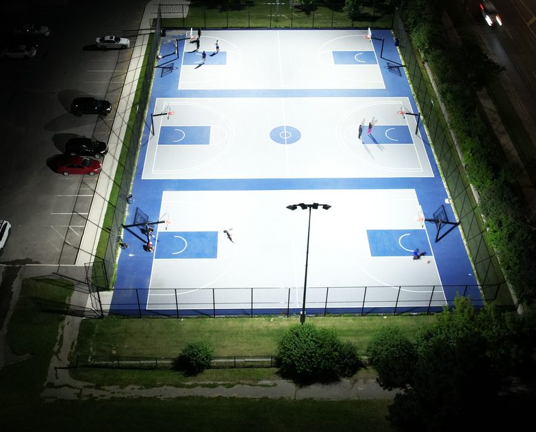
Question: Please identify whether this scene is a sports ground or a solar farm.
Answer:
sports ground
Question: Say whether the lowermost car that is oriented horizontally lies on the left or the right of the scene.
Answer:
left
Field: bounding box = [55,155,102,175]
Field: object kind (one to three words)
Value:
car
